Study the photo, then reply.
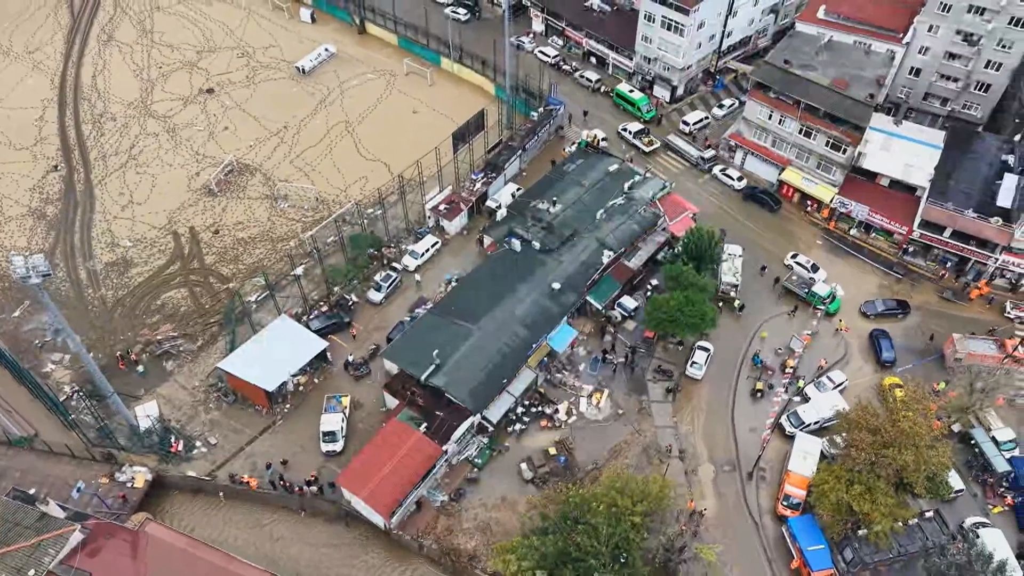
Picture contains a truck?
Yes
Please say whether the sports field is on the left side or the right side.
left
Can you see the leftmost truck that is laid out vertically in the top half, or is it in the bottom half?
bottom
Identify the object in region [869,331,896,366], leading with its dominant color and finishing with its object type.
blue car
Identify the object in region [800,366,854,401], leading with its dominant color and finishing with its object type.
white car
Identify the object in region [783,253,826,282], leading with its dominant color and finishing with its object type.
white car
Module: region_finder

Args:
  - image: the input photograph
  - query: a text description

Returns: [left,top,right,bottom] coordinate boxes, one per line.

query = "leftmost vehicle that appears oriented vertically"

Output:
[318,396,350,457]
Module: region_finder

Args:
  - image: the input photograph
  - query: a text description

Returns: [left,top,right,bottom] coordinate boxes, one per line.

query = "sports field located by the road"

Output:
[0,0,528,343]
